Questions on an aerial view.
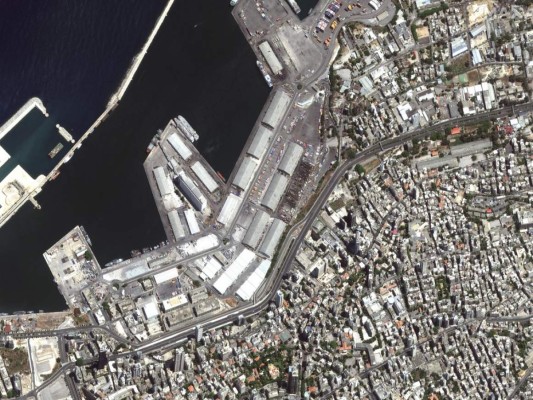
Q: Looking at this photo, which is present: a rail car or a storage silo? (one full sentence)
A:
It is a storage silo that can be seen here.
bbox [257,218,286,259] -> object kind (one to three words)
building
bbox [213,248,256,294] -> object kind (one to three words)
building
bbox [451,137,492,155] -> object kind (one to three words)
shed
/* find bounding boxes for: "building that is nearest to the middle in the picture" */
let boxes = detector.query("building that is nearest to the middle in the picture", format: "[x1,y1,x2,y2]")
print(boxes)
[261,171,289,213]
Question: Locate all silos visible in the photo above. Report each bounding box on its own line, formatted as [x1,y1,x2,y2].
[180,167,213,215]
